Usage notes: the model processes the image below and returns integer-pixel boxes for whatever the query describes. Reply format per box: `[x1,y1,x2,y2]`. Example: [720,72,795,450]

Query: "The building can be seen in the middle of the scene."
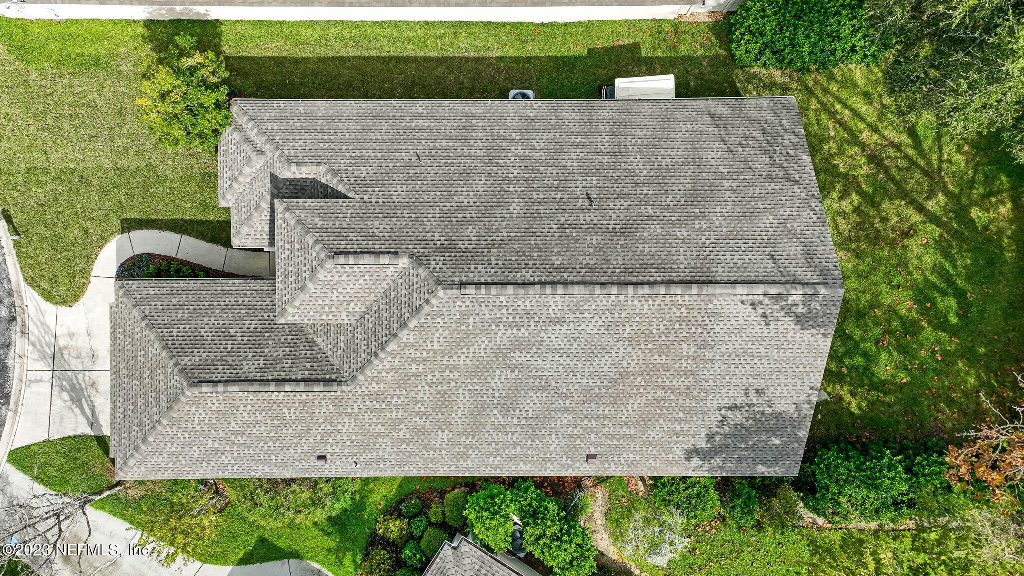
[111,96,844,478]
